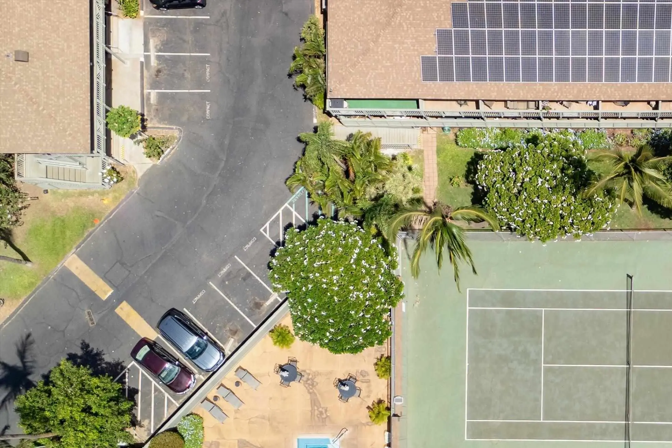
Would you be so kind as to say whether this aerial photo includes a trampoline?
No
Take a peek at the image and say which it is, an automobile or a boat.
automobile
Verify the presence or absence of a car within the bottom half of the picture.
Yes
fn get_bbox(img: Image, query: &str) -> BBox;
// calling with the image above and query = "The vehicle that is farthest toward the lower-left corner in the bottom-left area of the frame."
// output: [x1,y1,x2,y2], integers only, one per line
[124,336,192,393]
